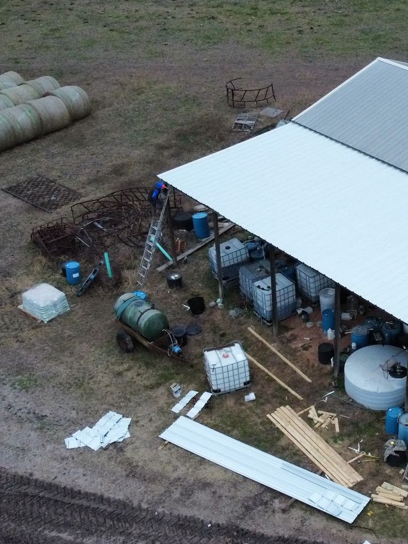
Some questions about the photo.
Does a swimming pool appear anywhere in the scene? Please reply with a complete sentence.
No, I can see no swimming pool in this picture.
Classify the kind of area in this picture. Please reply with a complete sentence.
What you see here is an industrial area.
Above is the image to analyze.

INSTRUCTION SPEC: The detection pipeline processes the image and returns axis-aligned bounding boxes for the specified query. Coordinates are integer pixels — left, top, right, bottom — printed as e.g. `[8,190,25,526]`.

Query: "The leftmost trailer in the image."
[108,318,194,364]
